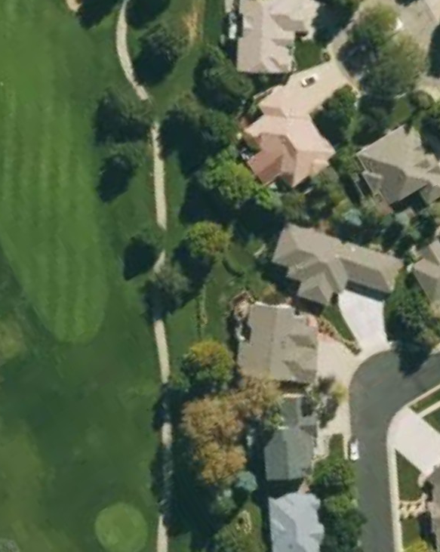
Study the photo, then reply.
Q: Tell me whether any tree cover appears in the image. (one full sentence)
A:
Yes, tree cover can be seen from above here.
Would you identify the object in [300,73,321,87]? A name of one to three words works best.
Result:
car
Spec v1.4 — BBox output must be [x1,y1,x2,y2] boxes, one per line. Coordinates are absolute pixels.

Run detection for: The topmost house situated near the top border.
[236,0,322,75]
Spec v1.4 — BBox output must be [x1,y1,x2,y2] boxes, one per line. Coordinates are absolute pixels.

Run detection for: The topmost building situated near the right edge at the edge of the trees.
[360,123,440,206]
